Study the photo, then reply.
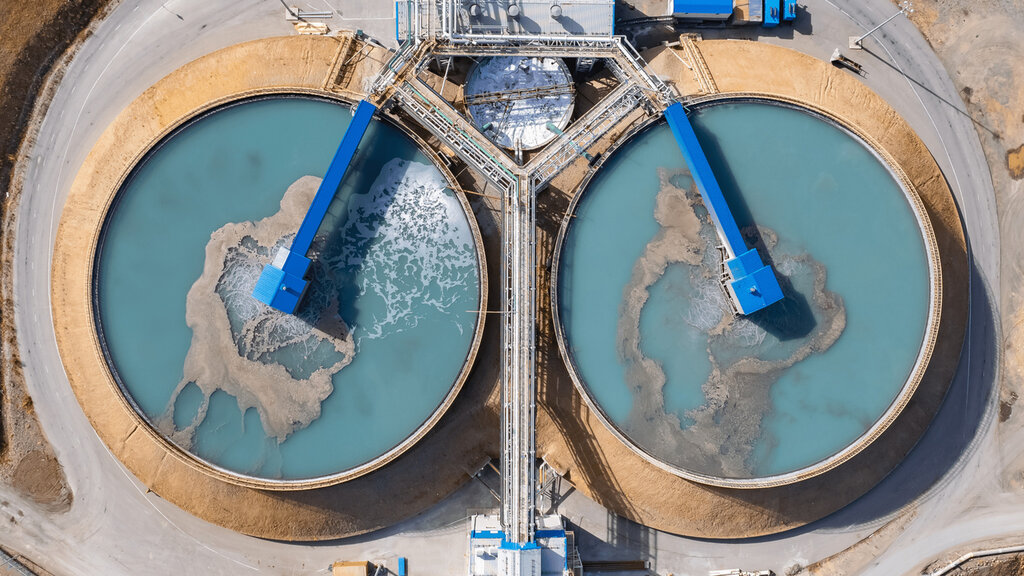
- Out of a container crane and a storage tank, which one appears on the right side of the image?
storage tank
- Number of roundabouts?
0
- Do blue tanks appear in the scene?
Yes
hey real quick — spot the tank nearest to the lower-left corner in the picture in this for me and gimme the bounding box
[83,86,488,492]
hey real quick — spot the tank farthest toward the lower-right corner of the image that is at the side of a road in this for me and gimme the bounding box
[548,90,949,490]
